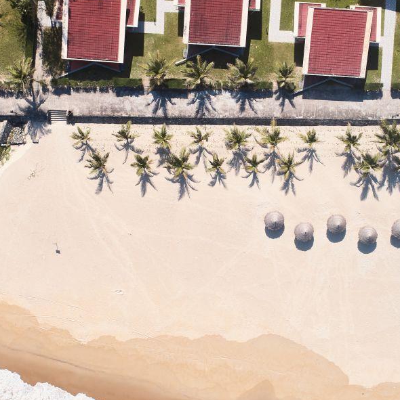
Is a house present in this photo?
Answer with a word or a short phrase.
Yes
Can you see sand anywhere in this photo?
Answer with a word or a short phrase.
Yes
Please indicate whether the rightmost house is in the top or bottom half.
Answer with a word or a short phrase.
top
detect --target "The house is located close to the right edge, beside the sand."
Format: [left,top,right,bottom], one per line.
[290,1,382,98]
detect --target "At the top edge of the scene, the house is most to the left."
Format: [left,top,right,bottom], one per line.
[54,0,140,79]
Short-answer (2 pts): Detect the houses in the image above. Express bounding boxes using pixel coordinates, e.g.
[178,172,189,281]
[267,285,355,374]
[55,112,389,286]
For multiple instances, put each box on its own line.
[174,0,261,65]
[54,0,140,79]
[290,1,382,98]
